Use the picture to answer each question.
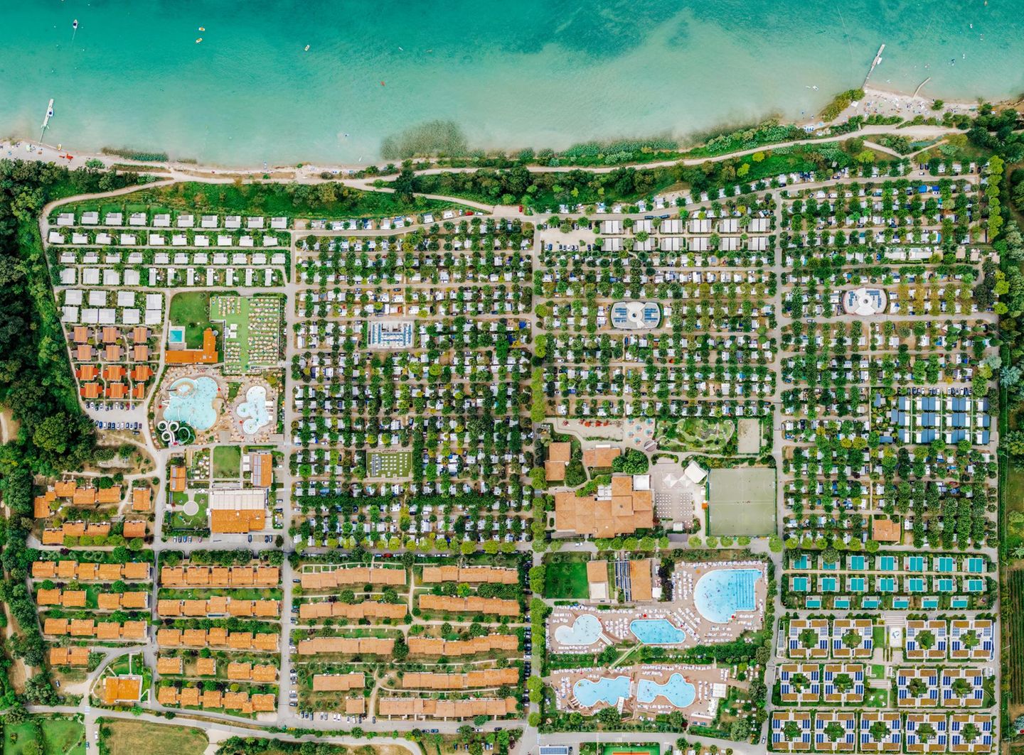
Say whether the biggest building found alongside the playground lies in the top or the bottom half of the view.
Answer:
bottom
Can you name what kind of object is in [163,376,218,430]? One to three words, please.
swimming pool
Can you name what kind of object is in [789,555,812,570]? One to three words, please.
building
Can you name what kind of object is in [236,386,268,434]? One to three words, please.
swimming pool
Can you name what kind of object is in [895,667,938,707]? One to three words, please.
house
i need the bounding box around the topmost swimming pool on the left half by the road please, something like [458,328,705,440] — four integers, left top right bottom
[169,330,182,342]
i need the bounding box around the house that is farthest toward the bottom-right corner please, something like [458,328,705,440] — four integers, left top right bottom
[948,712,992,753]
